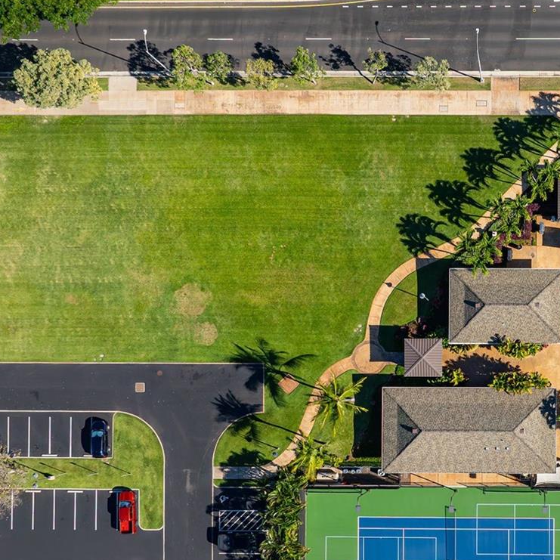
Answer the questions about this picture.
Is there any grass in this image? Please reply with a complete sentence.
Yes, there is grass in the image.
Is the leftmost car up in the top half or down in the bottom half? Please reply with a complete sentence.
The bottom half of the photo is where the leftmost car is.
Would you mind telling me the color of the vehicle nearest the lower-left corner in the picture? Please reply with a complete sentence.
From above, the vehicle nearest the lower-left corner appears red.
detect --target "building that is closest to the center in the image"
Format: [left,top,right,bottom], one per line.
[403,337,443,378]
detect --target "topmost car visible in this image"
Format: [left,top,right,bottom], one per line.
[87,417,109,456]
